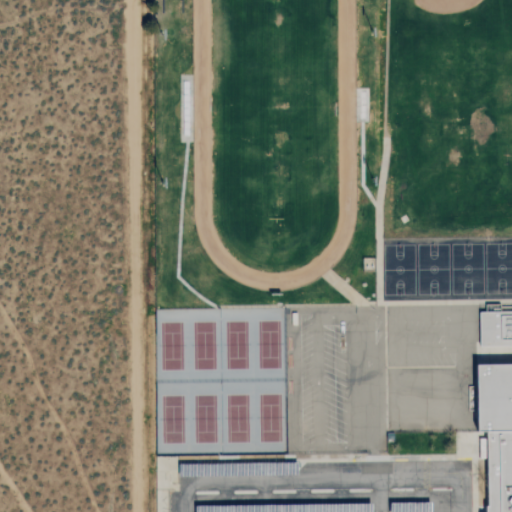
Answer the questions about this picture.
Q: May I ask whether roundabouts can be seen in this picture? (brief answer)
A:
No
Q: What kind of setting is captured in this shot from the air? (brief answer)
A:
sports ground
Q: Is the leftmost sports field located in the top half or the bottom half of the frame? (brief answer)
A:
top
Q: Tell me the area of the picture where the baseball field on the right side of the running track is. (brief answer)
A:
top right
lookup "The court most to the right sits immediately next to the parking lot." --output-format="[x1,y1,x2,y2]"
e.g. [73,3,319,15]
[486,242,512,296]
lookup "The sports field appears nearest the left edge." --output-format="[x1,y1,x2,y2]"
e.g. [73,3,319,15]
[212,0,339,272]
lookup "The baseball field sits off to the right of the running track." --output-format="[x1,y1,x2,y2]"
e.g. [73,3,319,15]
[390,0,512,227]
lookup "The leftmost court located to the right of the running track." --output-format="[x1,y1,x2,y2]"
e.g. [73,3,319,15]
[384,244,418,297]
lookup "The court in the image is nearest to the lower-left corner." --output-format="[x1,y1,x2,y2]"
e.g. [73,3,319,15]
[163,396,185,443]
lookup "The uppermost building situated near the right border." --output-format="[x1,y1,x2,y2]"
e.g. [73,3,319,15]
[480,311,512,346]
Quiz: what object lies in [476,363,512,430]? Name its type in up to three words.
building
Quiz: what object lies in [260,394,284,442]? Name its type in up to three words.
tennis court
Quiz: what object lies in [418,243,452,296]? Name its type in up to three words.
basketball court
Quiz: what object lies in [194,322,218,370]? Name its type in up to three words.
tennis court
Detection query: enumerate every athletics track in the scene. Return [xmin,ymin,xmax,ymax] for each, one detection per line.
[194,0,357,292]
